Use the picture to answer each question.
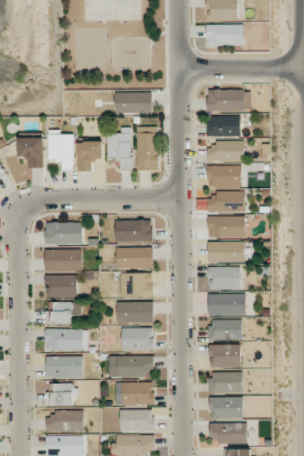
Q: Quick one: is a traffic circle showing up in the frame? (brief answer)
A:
No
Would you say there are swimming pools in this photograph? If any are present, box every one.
[252,219,266,236]
[24,120,40,132]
